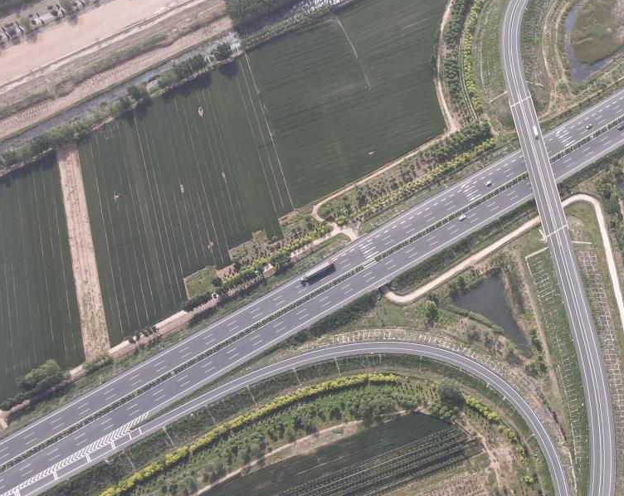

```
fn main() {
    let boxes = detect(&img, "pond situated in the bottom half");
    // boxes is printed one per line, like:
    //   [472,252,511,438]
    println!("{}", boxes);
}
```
[455,274,531,355]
